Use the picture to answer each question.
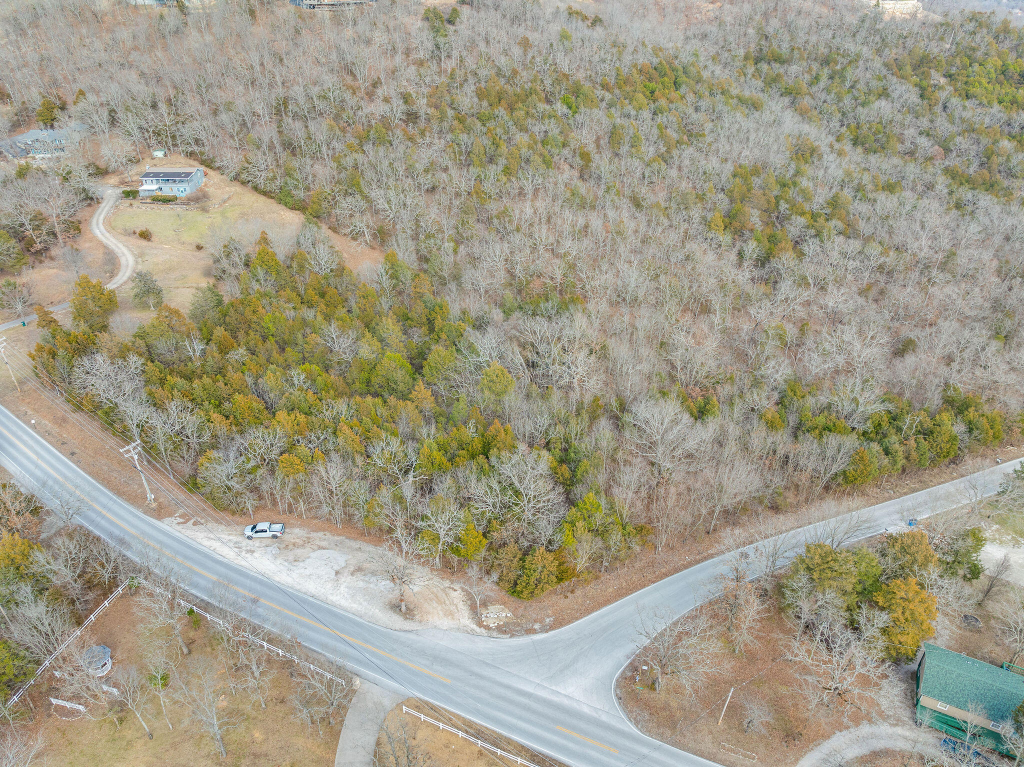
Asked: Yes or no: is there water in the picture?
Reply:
No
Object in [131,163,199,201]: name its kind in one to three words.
house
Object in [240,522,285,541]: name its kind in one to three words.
vehicle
